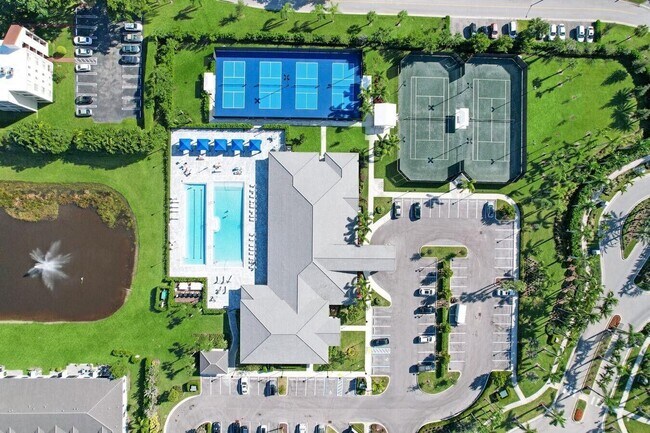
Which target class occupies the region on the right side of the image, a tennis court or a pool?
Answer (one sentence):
You can see a tennis court on the right side of the image.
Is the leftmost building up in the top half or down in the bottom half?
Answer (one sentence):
The top half of the photo is where the leftmost building is.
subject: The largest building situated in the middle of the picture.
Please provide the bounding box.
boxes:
[241,152,397,364]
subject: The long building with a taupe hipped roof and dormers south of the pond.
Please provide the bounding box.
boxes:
[0,364,129,433]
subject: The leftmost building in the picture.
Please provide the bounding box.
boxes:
[0,23,53,111]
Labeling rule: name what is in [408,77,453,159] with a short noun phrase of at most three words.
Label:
tennis court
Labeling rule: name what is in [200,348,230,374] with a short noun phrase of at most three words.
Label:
building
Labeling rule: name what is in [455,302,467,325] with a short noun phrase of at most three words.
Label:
vehicle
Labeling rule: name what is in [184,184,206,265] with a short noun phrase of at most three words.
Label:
swimming pool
